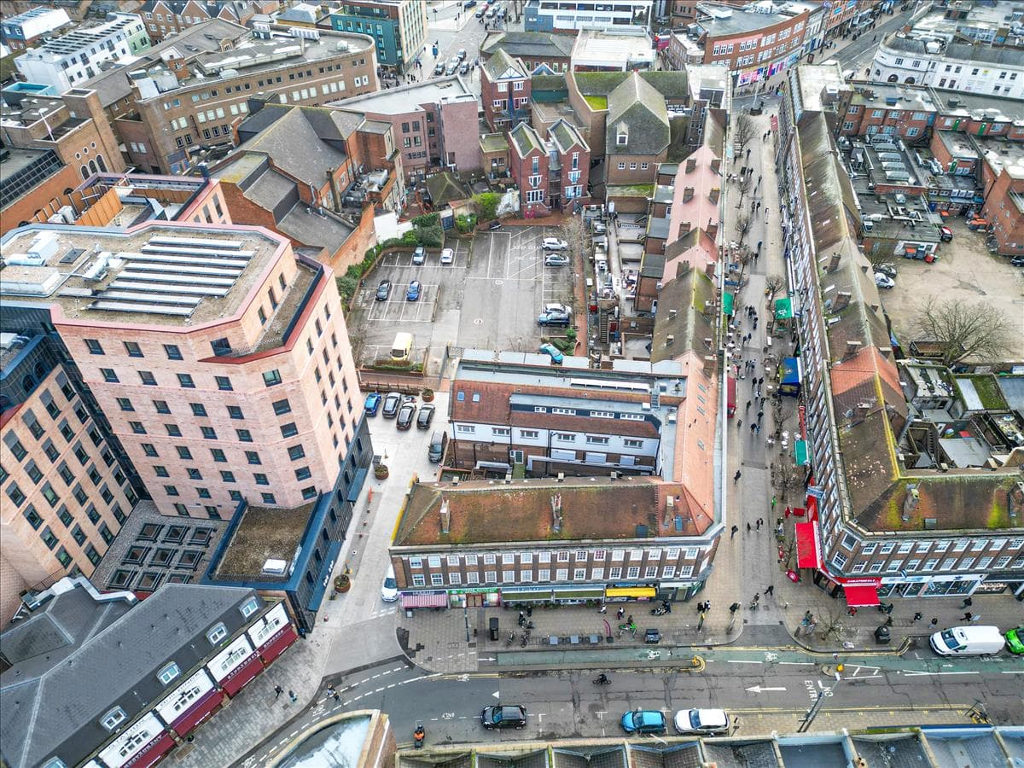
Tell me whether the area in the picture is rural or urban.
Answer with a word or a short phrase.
urban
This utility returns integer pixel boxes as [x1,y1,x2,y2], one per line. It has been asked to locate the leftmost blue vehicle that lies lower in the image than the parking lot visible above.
[362,392,383,418]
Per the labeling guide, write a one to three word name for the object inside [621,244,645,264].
shed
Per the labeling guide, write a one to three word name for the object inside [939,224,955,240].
car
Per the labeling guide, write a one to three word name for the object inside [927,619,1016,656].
van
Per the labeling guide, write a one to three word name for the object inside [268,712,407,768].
building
